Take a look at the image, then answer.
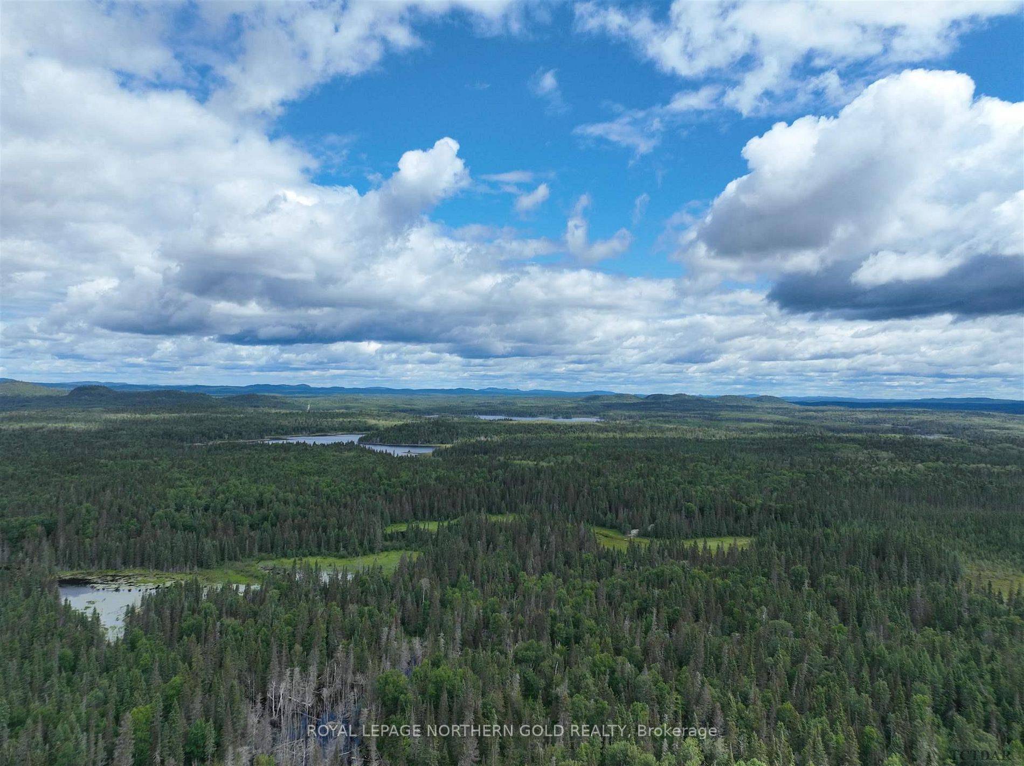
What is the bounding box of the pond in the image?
[56,580,170,665]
